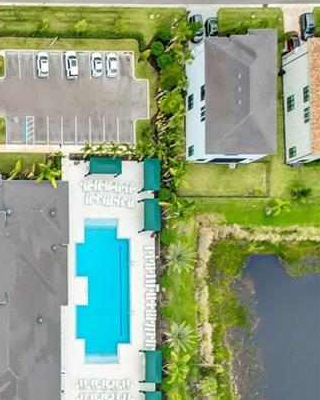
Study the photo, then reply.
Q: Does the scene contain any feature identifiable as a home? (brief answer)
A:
Yes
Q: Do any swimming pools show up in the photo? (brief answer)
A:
Yes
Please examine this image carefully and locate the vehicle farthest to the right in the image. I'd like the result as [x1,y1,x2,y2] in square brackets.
[299,13,315,42]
